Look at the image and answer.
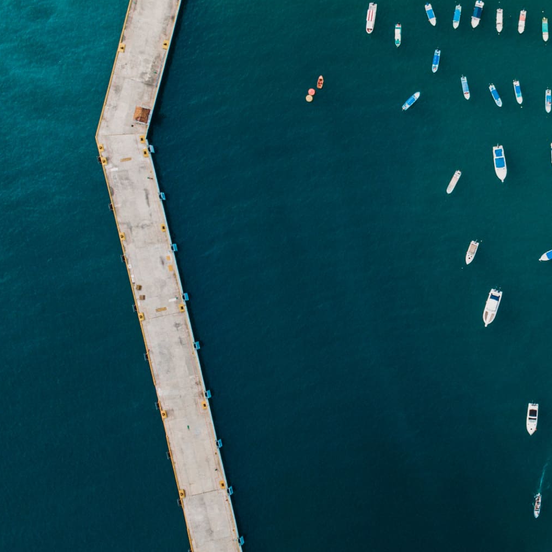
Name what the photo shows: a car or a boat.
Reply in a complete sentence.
Looking from above, you can make out a boat.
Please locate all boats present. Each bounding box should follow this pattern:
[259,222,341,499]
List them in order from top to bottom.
[366,0,377,35]
[471,0,483,30]
[425,2,436,27]
[452,2,461,31]
[496,5,503,34]
[518,8,526,35]
[542,14,549,43]
[394,22,402,48]
[432,46,440,74]
[461,73,470,101]
[318,74,323,89]
[514,78,522,105]
[490,82,502,108]
[545,85,551,114]
[402,92,421,112]
[493,143,507,183]
[447,168,461,195]
[465,240,479,265]
[539,250,552,261]
[484,286,501,327]
[527,399,538,436]
[533,492,542,518]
